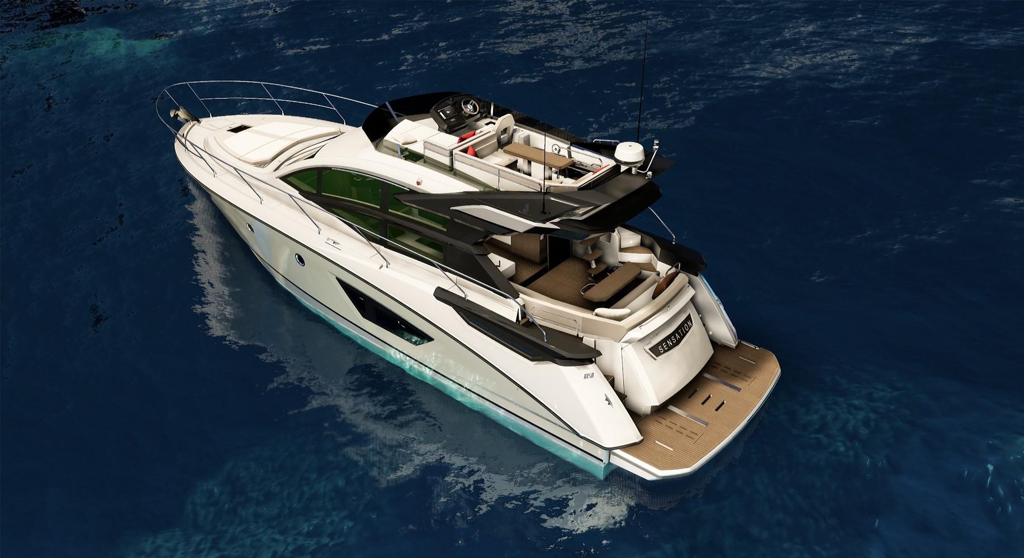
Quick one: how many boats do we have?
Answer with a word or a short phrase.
1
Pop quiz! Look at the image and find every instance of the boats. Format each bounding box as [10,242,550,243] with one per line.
[156,20,787,488]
